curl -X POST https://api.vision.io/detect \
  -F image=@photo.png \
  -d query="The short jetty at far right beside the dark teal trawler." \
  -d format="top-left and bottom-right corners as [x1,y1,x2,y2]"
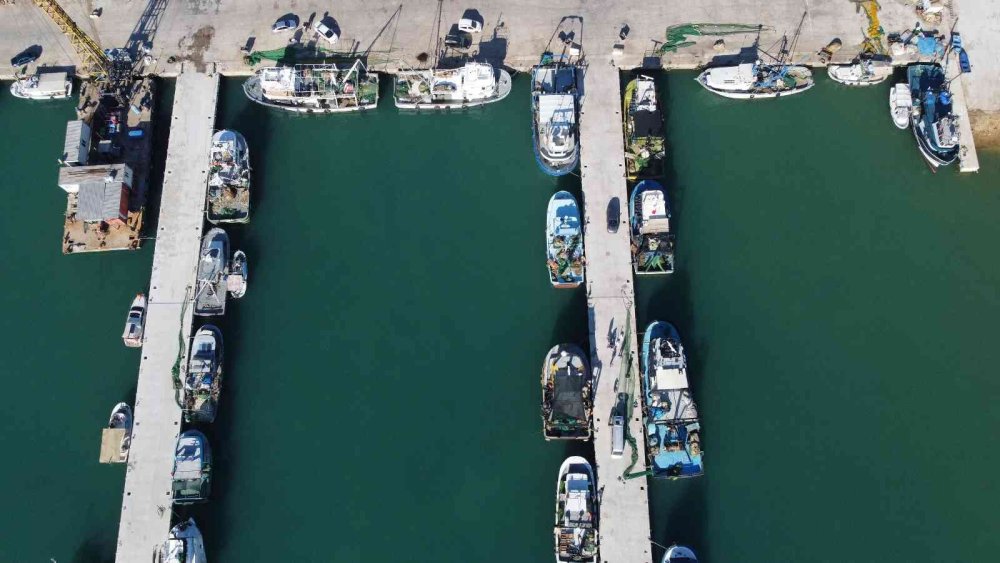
[944,64,979,175]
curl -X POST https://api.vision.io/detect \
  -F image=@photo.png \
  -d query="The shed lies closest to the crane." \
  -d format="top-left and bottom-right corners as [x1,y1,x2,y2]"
[61,123,92,167]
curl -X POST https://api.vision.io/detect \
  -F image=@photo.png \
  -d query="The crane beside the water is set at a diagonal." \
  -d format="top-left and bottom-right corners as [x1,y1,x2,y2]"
[21,0,140,112]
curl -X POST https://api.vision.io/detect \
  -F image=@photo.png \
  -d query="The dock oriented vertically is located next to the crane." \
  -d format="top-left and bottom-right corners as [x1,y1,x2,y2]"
[115,74,221,563]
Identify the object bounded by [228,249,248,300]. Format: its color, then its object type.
white boat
